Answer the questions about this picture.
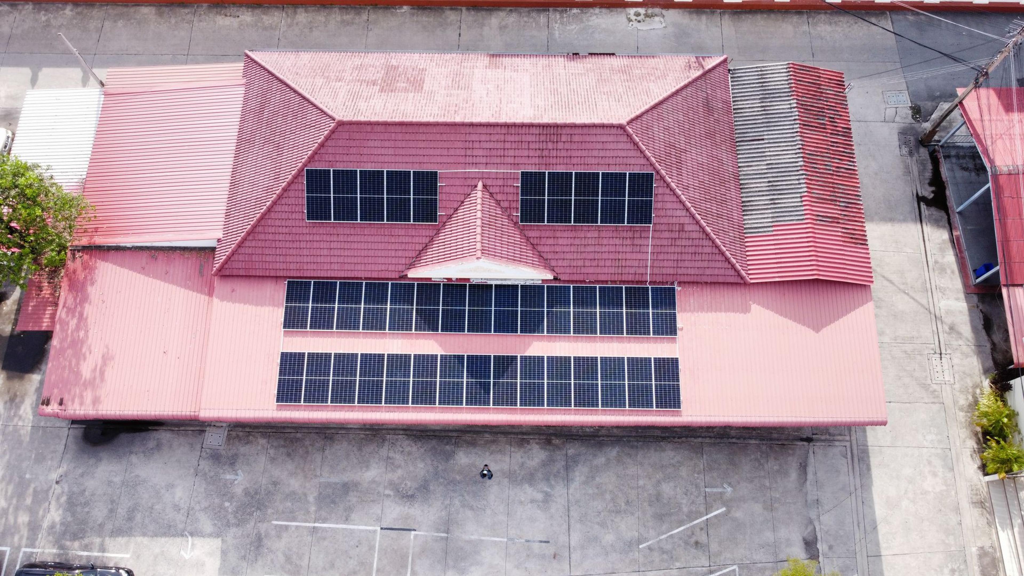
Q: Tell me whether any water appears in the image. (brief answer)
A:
No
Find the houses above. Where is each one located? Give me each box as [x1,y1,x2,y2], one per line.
[936,88,1024,372]
[209,46,753,295]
